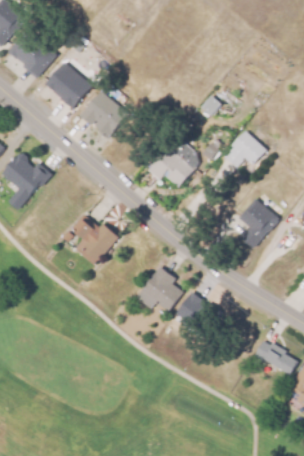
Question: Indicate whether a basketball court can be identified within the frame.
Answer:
No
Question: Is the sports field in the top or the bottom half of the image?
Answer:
bottom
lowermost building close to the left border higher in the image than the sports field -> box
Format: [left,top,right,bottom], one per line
[2,153,54,210]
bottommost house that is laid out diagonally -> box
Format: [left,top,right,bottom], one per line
[258,336,300,375]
